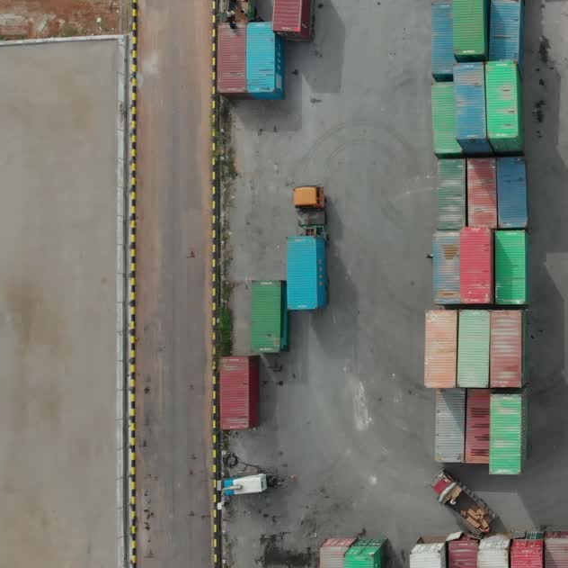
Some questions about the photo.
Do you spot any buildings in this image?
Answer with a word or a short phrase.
No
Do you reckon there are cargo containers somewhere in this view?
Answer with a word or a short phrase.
Yes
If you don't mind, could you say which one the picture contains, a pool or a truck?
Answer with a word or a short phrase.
truck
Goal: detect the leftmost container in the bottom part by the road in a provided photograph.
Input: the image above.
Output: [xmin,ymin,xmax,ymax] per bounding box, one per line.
[220,355,260,429]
